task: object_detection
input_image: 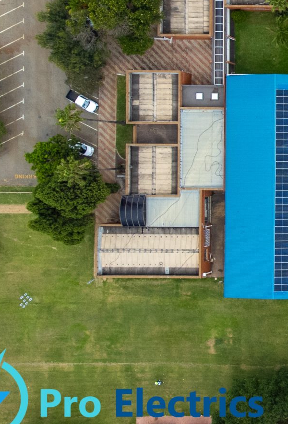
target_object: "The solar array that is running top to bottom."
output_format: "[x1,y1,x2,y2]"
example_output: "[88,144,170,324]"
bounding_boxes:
[274,86,288,292]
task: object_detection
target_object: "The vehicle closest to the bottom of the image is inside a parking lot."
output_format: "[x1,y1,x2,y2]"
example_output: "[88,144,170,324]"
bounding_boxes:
[67,138,96,156]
